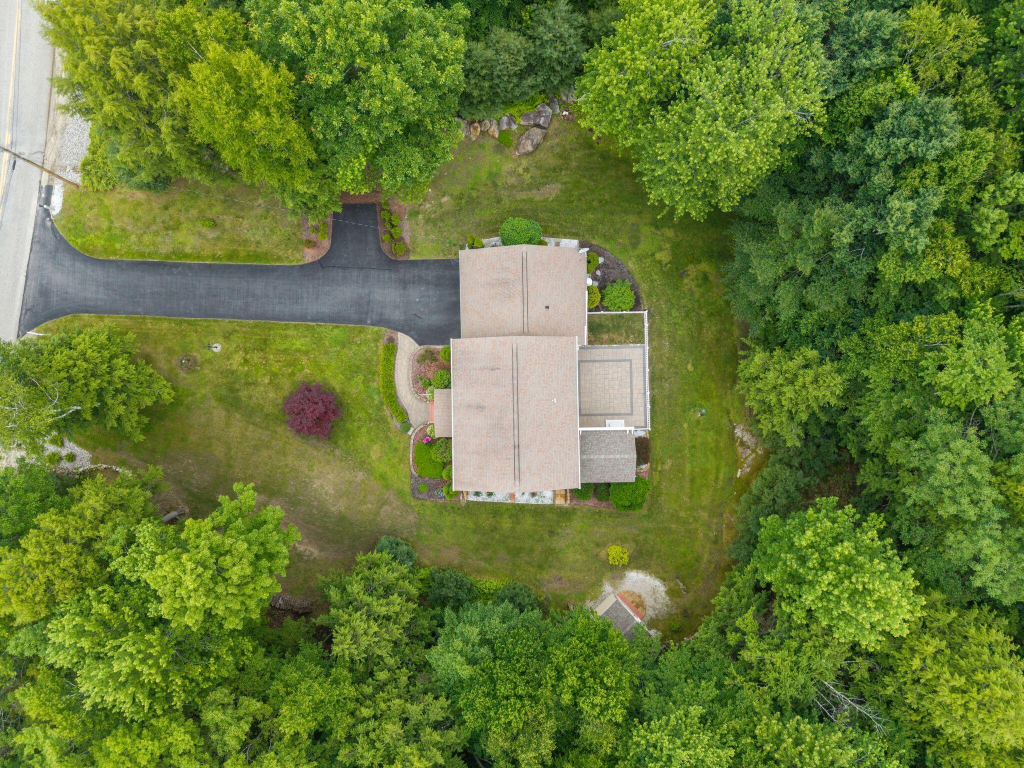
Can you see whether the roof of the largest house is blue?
No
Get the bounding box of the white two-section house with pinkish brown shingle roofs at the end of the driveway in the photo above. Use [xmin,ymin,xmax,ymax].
[427,244,639,493]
